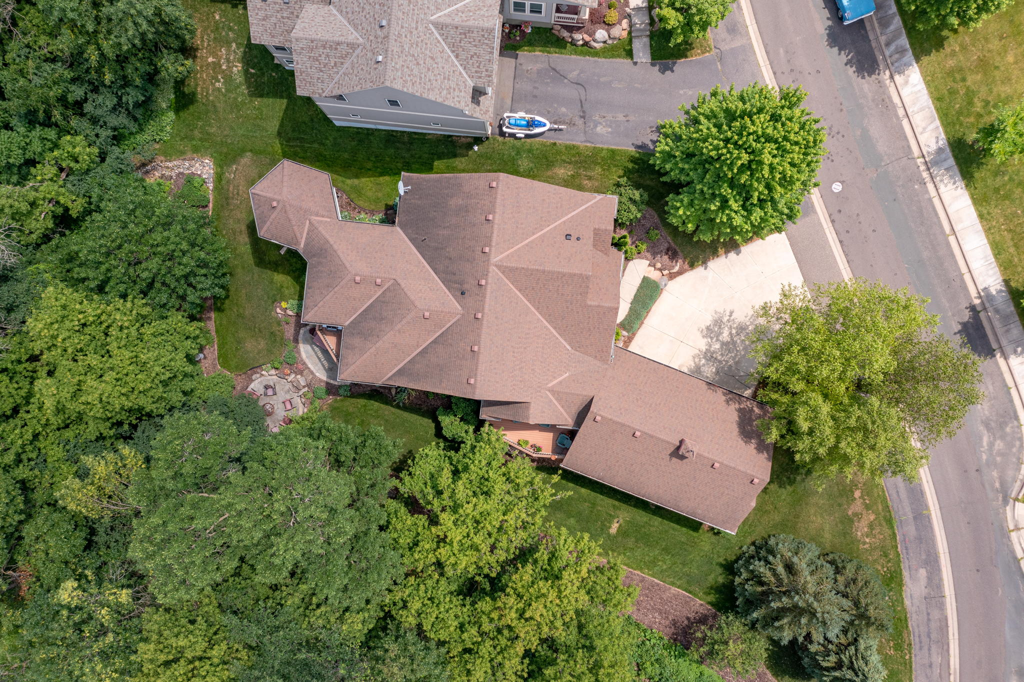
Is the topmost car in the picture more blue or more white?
blue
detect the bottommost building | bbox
[247,157,774,536]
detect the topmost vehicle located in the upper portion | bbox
[833,0,876,25]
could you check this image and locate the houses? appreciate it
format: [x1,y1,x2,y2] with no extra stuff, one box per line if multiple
[246,0,597,137]
[247,157,774,536]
